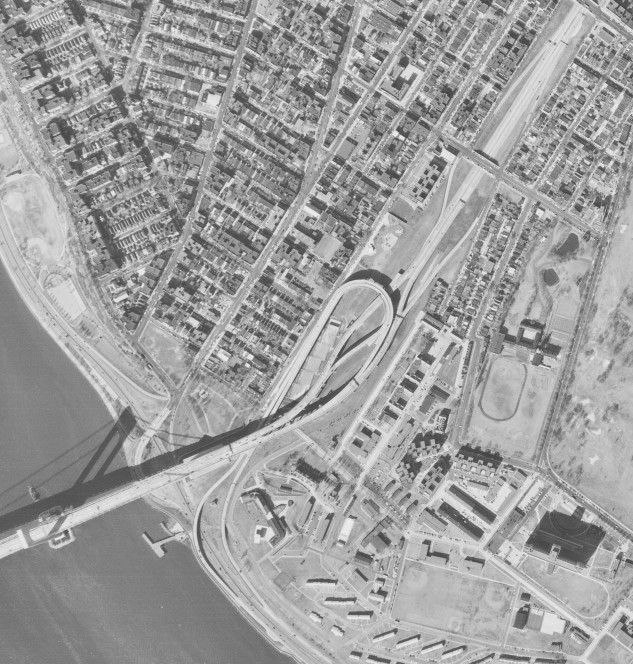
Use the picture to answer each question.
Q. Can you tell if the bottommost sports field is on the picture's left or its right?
right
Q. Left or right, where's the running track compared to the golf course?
to its left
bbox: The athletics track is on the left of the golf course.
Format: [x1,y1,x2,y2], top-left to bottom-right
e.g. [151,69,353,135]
[479,355,527,421]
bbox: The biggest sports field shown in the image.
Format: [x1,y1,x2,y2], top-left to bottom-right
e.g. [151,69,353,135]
[523,555,610,619]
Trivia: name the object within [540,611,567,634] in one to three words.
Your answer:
house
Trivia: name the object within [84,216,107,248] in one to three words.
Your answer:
building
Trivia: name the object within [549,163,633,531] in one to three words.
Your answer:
golf course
